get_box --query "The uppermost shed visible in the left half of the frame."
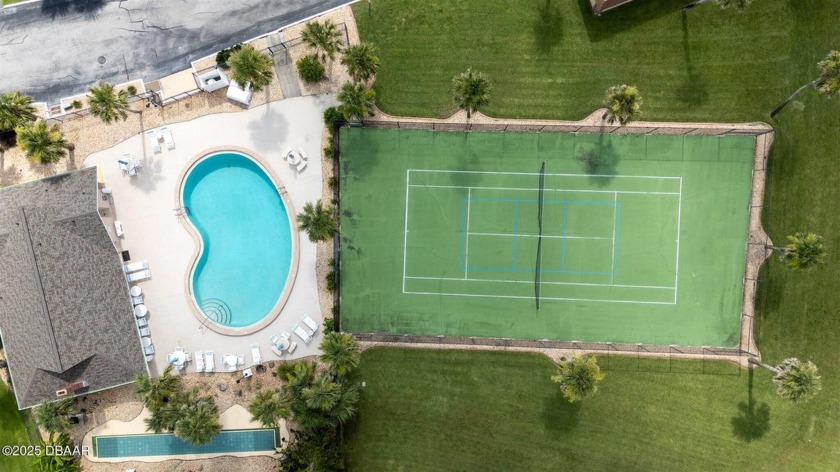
[228,79,256,104]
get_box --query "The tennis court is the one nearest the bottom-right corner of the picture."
[340,127,756,348]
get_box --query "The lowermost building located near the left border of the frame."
[0,166,149,410]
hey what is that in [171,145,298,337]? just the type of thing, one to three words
swimming pool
